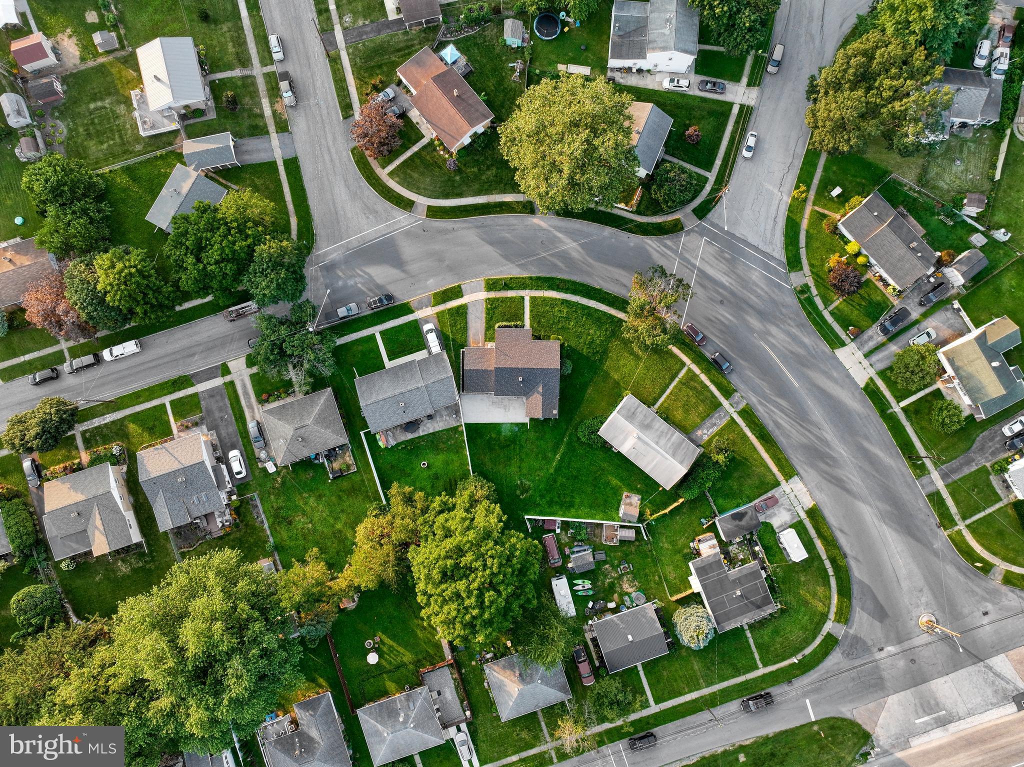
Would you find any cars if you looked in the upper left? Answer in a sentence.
Yes, the scene does show a car in the upper left.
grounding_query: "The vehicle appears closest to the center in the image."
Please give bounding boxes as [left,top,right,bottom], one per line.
[424,320,443,355]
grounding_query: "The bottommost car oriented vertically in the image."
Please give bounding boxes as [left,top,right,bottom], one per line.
[456,729,472,761]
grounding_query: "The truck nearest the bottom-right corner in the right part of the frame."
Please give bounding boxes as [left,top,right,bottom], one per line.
[739,690,776,711]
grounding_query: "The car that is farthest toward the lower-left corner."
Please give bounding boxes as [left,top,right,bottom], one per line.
[23,456,43,488]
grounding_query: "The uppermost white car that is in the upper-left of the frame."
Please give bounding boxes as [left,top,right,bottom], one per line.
[267,31,287,65]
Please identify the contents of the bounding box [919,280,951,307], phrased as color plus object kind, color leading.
black car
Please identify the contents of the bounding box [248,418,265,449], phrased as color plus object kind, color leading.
gray car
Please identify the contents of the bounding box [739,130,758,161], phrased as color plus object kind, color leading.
white car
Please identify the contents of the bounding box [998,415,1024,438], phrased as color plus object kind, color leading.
white car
